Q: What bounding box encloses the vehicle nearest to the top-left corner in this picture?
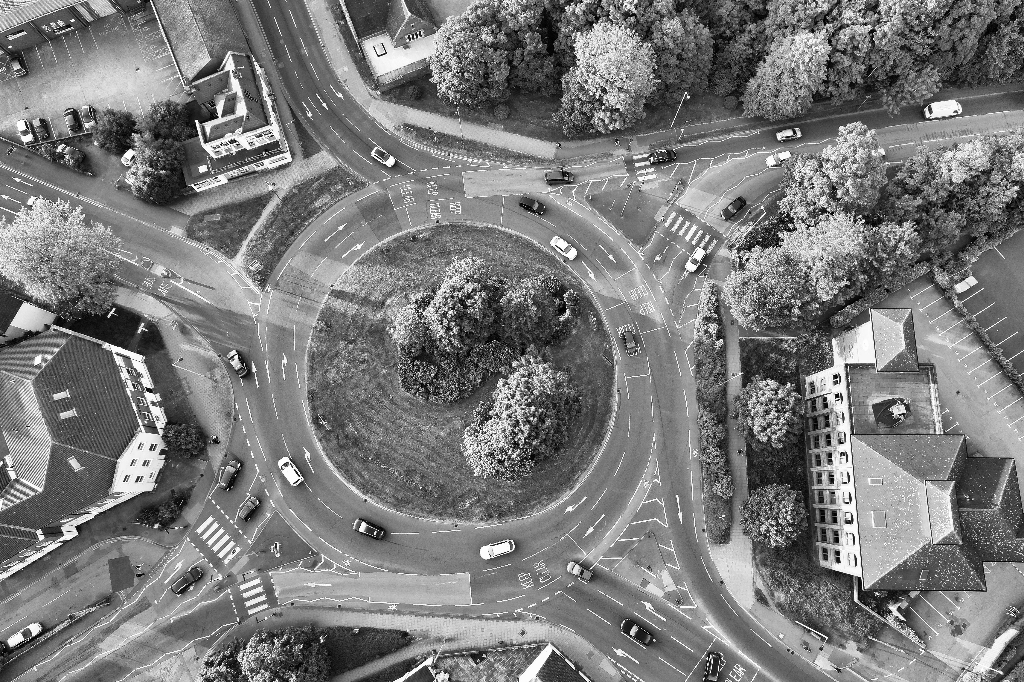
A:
[7,51,30,79]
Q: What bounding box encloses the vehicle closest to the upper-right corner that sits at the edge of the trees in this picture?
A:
[922,98,964,120]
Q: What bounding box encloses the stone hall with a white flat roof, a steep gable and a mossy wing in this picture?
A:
[342,0,450,91]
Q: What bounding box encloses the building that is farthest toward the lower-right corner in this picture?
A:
[803,308,1024,593]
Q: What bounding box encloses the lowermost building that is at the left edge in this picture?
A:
[0,328,168,580]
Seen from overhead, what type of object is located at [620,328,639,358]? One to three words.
car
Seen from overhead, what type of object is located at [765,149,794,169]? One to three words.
car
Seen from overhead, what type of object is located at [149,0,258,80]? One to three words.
building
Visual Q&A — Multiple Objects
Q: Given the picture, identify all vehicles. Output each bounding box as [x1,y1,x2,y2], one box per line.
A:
[718,194,749,222]
[922,98,964,120]
[548,234,579,261]
[118,145,142,168]
[226,349,252,380]
[235,491,264,527]
[169,565,206,597]
[8,620,44,651]
[209,438,220,446]
[80,103,96,131]
[775,126,803,144]
[620,328,639,358]
[15,116,37,146]
[618,616,656,649]
[278,455,305,488]
[30,115,52,136]
[369,145,397,169]
[564,559,596,584]
[518,195,547,216]
[351,518,387,542]
[217,458,244,493]
[544,169,574,186]
[7,51,30,79]
[765,149,794,169]
[682,244,709,274]
[647,148,679,166]
[62,105,82,130]
[479,539,518,560]
[881,148,888,157]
